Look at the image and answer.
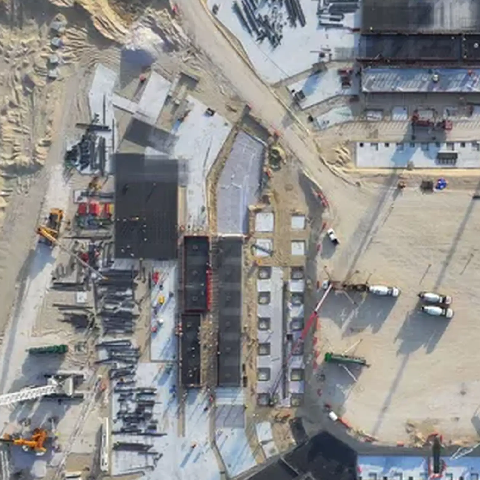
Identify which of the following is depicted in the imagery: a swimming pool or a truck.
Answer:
truck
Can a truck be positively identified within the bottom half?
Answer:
Yes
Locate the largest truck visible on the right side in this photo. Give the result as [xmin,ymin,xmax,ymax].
[274,258,366,398]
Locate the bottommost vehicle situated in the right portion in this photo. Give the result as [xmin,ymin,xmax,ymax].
[325,407,340,427]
